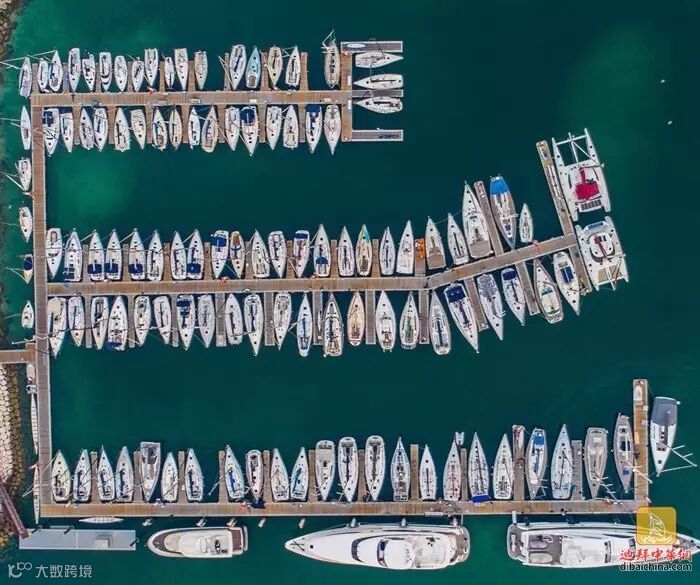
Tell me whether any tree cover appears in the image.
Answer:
No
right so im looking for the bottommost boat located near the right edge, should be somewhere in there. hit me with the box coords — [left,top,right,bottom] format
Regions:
[505,506,700,567]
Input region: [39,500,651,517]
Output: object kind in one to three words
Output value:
pier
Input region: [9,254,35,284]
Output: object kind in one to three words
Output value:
boat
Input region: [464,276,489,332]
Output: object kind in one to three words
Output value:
pier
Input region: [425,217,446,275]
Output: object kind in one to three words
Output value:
boat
